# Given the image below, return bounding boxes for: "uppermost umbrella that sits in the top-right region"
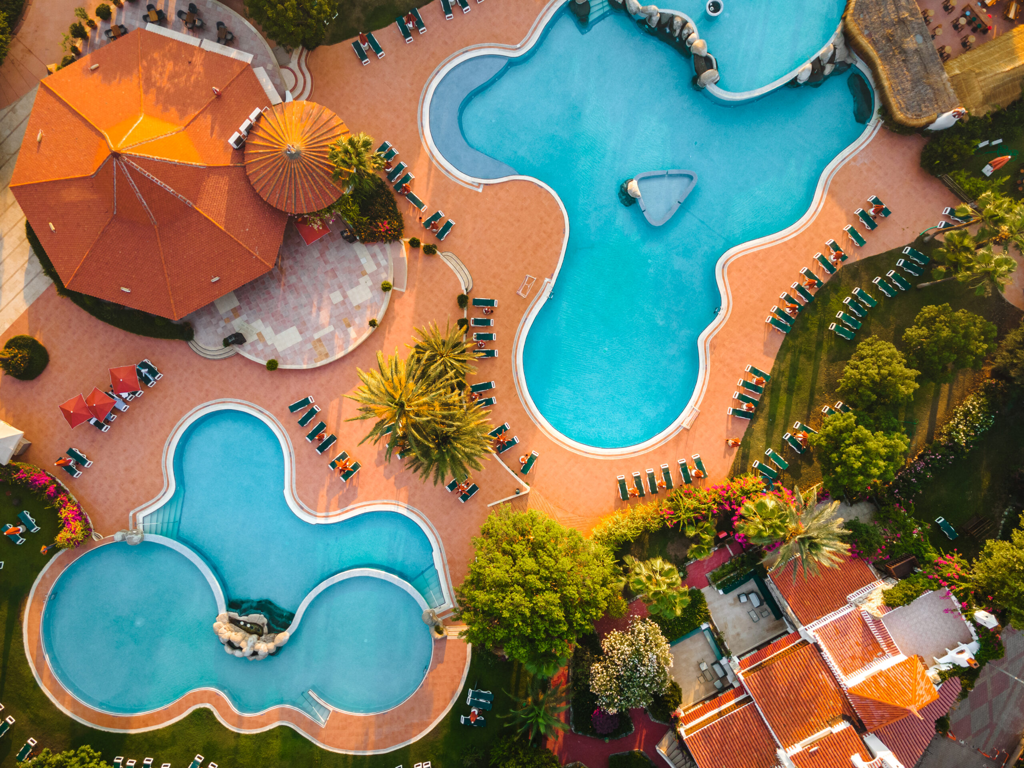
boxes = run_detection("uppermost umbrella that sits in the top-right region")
[985,158,1012,174]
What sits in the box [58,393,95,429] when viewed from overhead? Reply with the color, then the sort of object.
red umbrella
